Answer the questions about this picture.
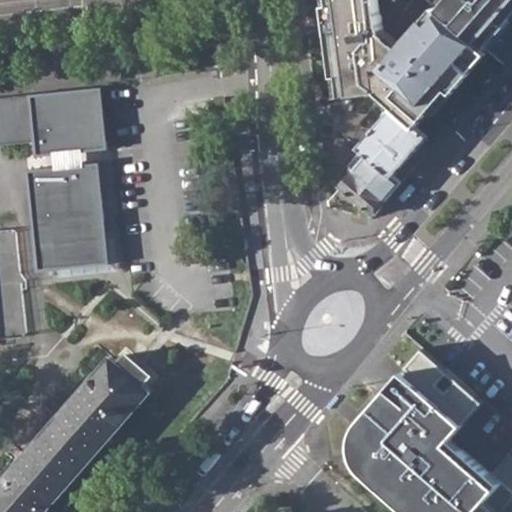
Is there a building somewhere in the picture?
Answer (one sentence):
Yes, a building can be made out from above.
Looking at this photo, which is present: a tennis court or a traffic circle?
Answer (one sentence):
It is a traffic circle that can be seen here.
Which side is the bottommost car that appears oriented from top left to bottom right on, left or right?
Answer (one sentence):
You can find the bottommost car that appears oriented from top left to bottom right on the right side of the picture.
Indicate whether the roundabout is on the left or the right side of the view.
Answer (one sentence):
It is on the right.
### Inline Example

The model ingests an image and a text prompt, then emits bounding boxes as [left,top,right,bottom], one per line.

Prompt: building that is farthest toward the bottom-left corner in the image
[0,358,149,512]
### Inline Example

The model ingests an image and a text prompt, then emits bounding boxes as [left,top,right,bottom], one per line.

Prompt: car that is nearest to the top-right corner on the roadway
[490,108,508,127]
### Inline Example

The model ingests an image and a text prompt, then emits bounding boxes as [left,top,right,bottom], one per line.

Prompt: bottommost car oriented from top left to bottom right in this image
[478,258,500,278]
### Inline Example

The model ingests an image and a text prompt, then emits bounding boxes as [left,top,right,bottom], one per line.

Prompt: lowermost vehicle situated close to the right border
[483,412,502,432]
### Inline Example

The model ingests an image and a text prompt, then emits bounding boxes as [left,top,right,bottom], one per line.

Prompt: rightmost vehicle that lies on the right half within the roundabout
[361,256,382,274]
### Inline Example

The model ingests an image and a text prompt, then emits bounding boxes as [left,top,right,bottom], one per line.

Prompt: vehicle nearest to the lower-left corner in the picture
[198,452,220,478]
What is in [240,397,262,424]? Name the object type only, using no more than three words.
vehicle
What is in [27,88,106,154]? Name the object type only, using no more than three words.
building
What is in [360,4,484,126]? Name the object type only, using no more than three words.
building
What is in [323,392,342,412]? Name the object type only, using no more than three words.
car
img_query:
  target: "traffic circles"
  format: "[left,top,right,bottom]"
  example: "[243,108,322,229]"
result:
[258,238,445,414]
